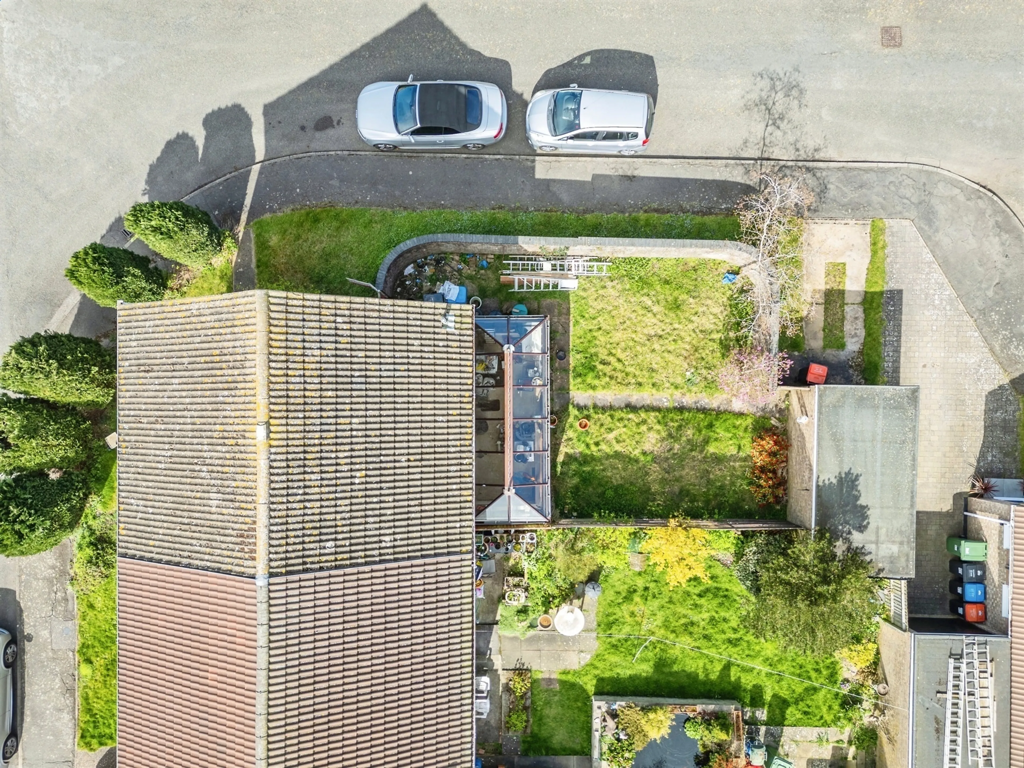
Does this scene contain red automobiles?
No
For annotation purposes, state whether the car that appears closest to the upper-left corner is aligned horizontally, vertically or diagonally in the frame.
horizontally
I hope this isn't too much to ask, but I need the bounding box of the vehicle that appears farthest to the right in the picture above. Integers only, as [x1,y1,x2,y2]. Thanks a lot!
[527,77,655,154]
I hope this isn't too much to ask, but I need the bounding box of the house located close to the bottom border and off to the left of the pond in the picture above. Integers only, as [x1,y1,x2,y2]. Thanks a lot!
[113,550,478,768]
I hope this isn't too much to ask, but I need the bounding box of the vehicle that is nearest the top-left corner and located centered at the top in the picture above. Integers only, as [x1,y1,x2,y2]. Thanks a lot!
[353,73,504,150]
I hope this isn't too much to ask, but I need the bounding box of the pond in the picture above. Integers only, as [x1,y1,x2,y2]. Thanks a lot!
[592,696,745,768]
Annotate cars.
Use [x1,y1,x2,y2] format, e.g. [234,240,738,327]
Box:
[0,630,16,768]
[353,73,504,150]
[527,77,655,154]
